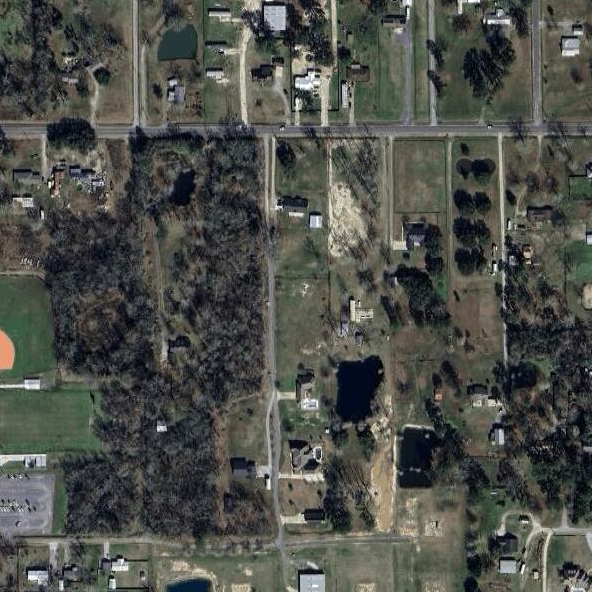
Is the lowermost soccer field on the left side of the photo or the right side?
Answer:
left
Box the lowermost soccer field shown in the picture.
[0,388,103,454]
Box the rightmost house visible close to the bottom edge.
[558,562,592,591]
